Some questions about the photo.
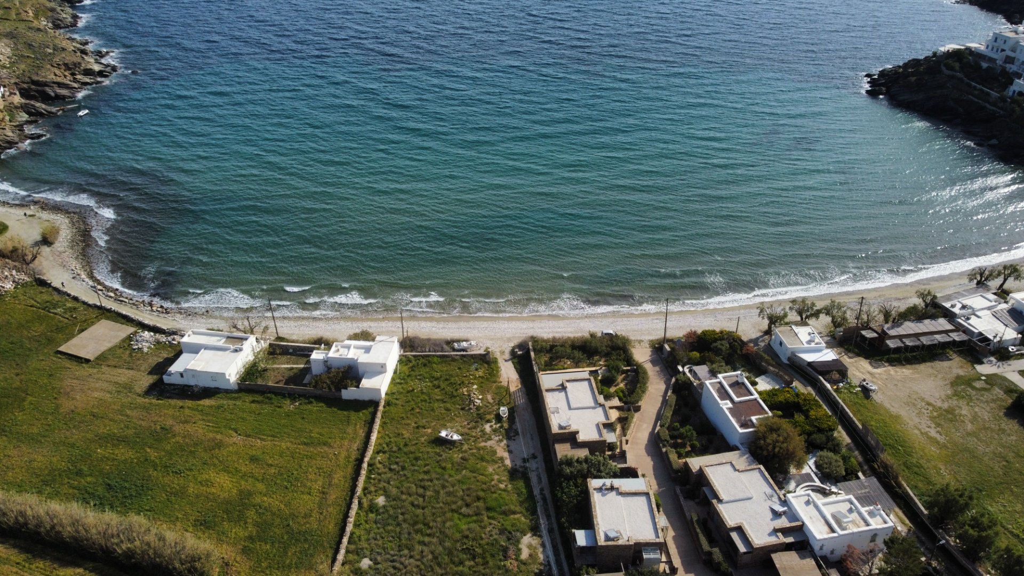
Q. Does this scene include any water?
Yes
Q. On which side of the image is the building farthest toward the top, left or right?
right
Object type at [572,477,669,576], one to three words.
house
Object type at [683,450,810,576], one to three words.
house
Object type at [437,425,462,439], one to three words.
boat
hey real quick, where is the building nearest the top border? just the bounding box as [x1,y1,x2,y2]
[972,16,1024,76]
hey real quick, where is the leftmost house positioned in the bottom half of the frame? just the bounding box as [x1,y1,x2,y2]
[162,330,265,388]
